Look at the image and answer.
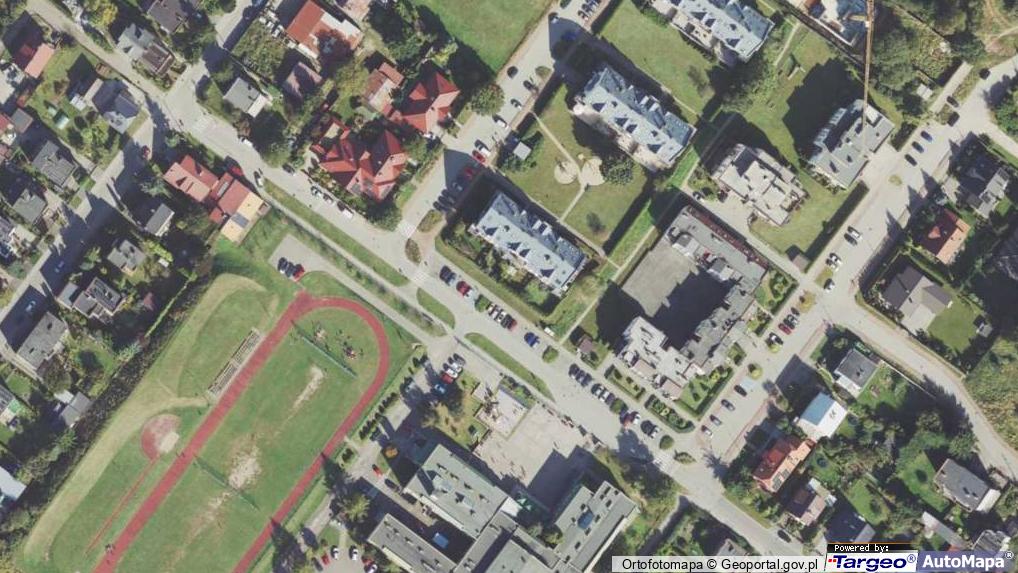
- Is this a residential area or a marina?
residential area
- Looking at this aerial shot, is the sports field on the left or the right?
left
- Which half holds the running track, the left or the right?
left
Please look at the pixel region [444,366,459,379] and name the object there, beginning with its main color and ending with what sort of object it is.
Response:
white vehicle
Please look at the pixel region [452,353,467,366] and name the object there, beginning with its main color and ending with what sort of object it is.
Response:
gray vehicle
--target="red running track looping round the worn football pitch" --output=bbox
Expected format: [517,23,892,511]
[92,292,388,573]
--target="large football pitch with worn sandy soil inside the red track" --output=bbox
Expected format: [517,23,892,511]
[114,306,380,573]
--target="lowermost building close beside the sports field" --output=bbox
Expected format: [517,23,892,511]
[367,446,637,573]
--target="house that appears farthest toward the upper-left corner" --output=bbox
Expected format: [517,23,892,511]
[13,33,57,82]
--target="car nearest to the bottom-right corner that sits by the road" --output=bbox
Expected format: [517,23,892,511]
[776,530,791,543]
